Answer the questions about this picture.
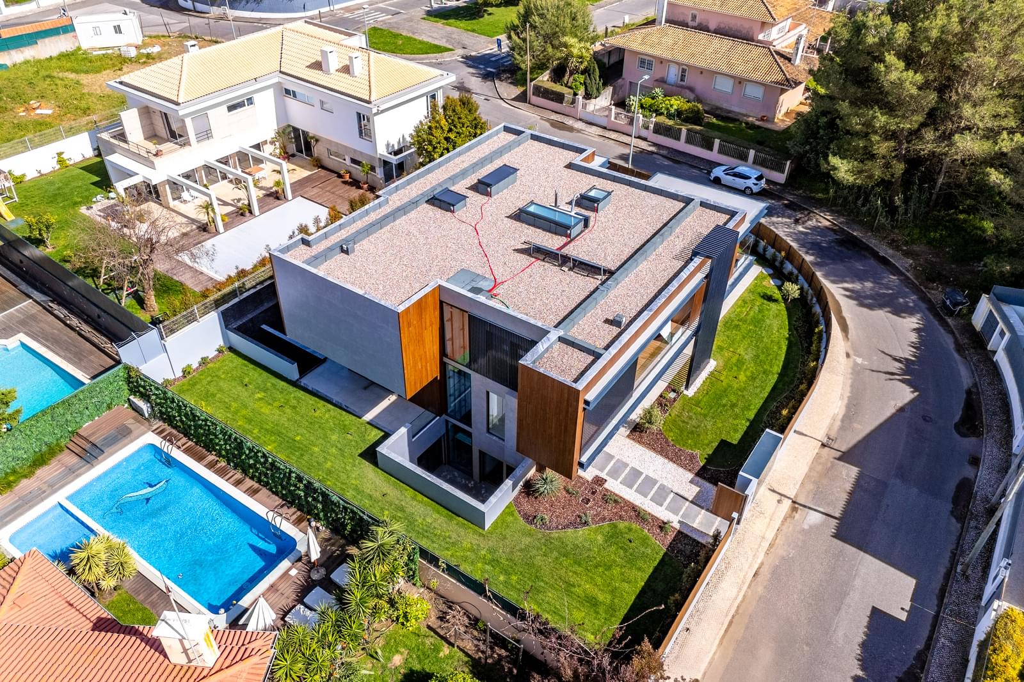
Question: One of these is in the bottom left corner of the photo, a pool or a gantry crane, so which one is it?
pool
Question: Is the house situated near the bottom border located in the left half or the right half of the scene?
left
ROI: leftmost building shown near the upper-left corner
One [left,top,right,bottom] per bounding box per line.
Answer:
[65,5,136,50]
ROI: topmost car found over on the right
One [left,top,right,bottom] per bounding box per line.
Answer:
[707,163,766,194]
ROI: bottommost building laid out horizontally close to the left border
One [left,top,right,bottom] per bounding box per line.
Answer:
[0,546,281,682]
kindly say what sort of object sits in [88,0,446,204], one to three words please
house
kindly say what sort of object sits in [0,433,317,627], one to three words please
swimming pool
